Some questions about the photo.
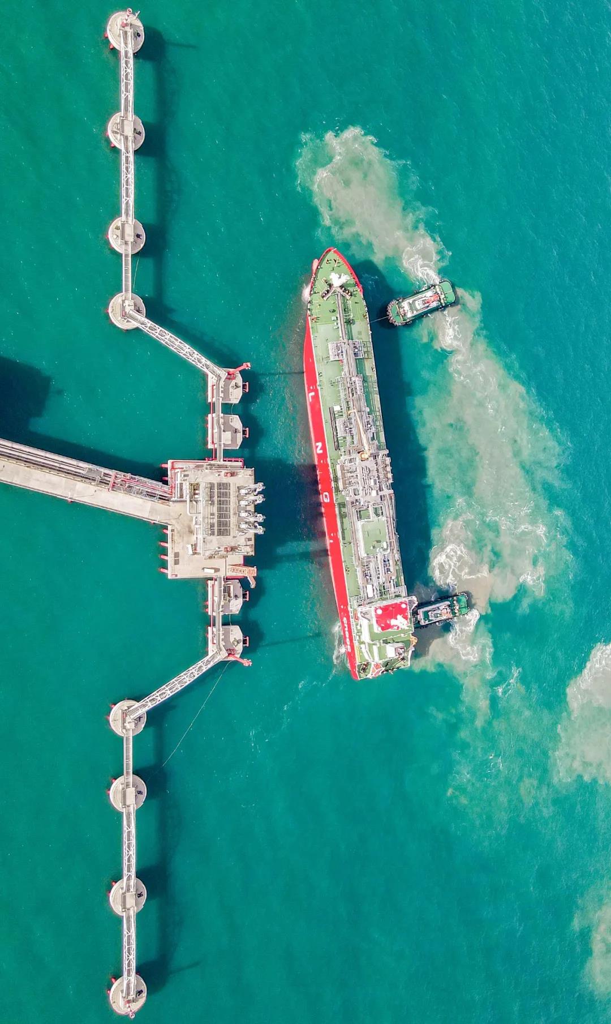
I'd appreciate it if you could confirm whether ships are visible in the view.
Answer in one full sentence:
Yes, the photo shows a ship.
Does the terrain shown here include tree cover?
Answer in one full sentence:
No, tree cover can't be seen anywhere here.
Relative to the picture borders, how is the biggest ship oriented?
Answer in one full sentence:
In this picture, the biggest ship lies from top to bottom.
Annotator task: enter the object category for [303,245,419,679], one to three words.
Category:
ship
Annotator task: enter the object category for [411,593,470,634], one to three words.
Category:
boat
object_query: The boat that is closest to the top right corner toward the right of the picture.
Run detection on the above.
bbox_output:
[387,279,456,328]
